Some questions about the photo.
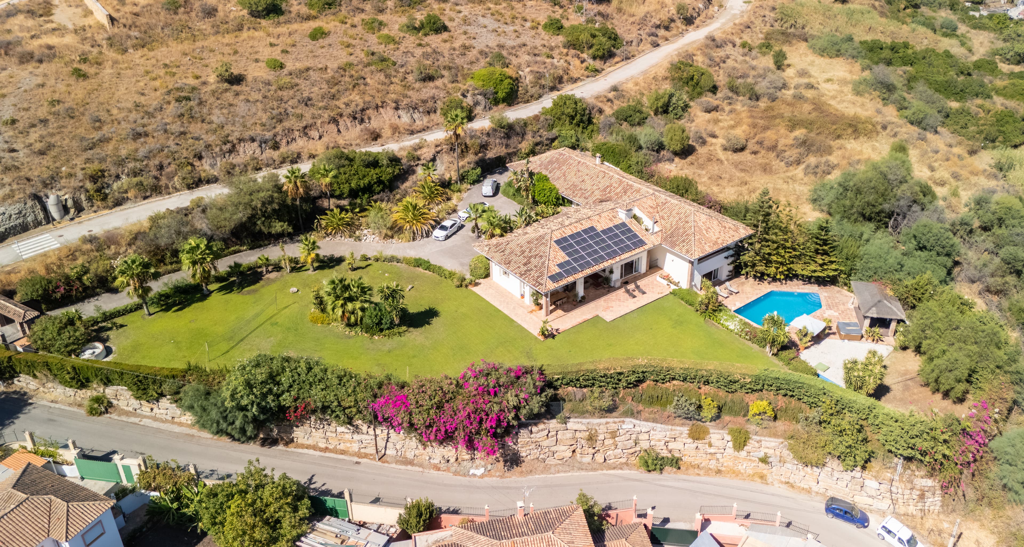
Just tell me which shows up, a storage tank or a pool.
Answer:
pool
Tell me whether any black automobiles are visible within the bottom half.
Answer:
No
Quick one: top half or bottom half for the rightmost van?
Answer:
bottom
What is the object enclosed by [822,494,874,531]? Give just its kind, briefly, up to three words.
car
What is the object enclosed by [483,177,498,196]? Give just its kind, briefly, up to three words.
vehicle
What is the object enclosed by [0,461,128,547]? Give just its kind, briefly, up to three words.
house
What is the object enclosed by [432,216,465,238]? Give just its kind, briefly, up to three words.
car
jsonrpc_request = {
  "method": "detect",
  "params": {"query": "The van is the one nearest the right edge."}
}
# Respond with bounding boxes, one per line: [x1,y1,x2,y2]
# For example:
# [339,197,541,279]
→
[870,511,928,547]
